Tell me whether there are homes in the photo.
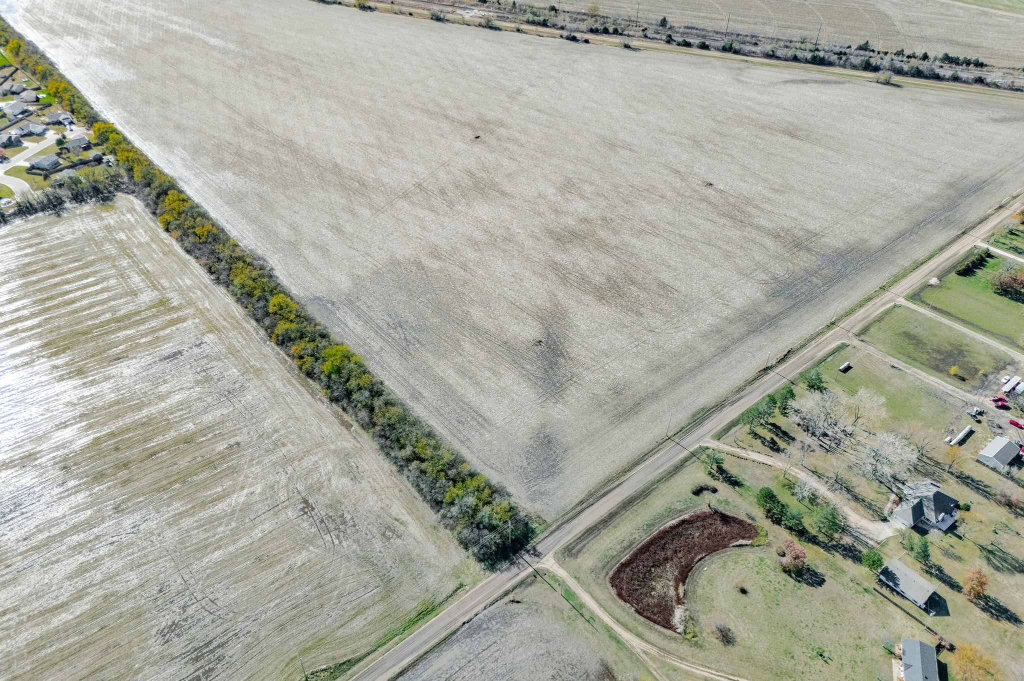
Yes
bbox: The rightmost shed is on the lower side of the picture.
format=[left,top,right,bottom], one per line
[976,437,1020,475]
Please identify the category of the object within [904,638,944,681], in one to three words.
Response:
house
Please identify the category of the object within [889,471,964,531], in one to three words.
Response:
house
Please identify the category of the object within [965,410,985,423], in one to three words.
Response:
vehicle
